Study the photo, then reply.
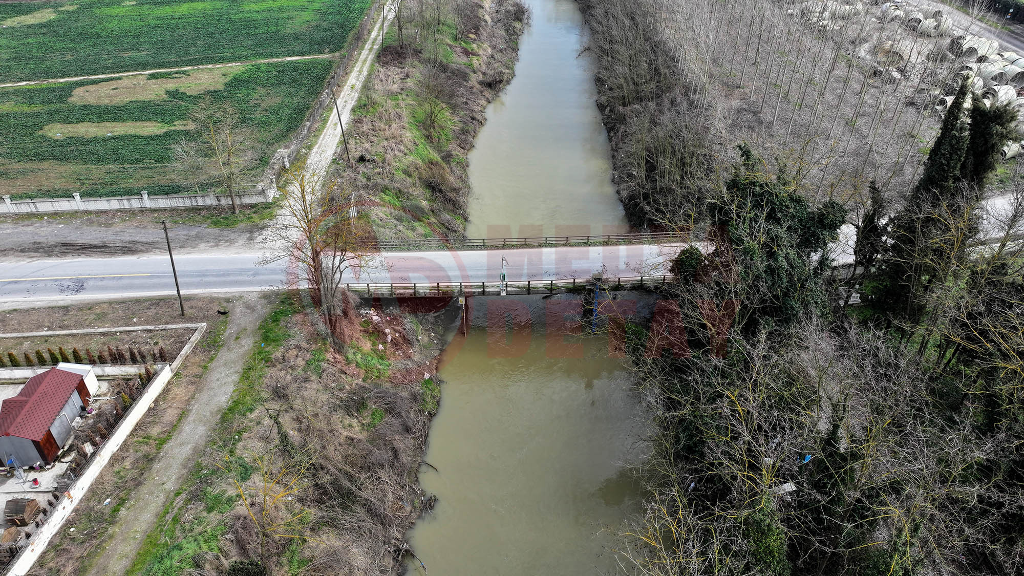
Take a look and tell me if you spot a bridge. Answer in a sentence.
Yes, the image includes a bridge.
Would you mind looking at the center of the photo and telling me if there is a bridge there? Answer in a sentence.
Yes, a bridge shows up at the center of the photo.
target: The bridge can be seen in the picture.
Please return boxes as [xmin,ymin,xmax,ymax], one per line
[348,228,717,315]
